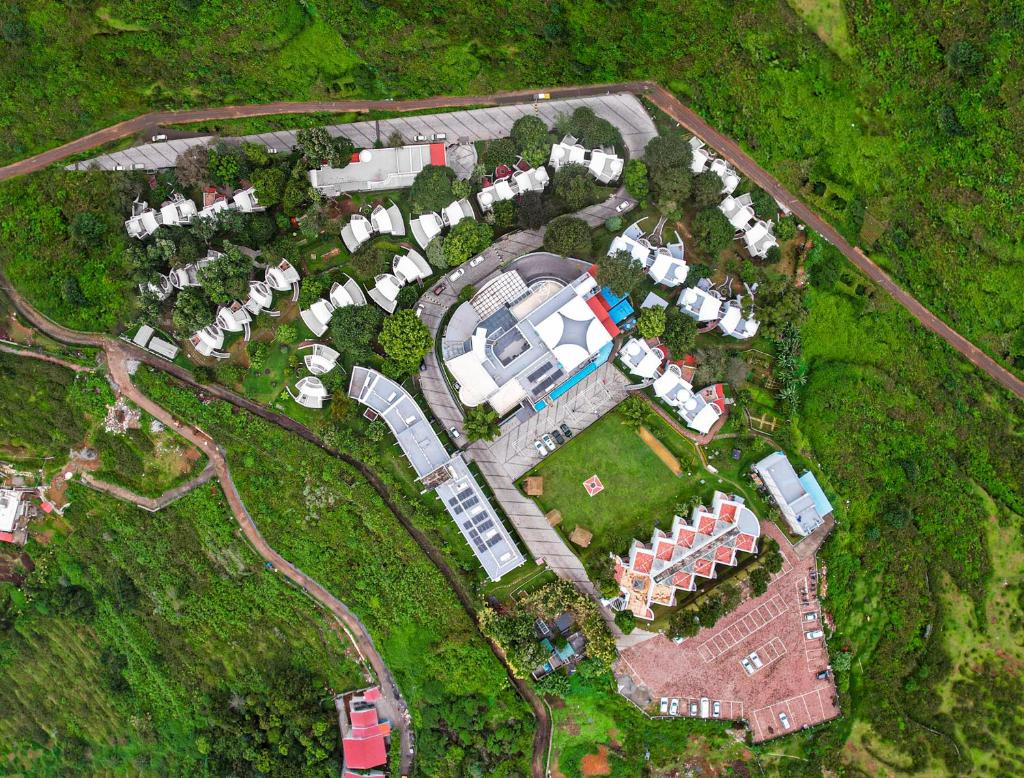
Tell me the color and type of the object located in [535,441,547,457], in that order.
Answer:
white vehicle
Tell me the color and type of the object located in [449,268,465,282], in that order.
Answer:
white car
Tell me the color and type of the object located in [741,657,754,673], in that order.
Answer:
white vehicle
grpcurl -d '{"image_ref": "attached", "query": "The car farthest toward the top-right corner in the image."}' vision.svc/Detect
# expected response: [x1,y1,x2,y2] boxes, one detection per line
[614,201,630,213]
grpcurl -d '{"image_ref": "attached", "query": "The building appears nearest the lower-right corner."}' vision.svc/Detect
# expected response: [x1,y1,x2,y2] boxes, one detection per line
[761,450,833,537]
